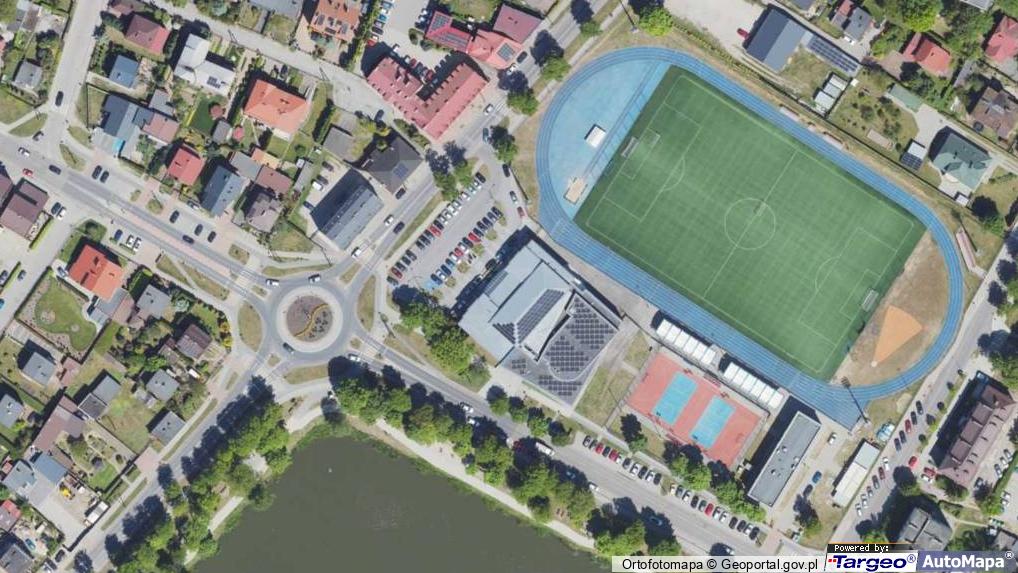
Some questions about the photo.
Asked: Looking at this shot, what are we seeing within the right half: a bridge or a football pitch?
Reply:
football pitch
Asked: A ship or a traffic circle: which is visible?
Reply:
traffic circle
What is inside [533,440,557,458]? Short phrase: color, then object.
white vehicle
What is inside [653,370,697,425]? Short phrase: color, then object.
blue basketball court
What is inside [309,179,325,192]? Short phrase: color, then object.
white vehicle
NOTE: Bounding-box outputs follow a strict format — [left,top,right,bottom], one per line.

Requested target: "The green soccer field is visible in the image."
[573,65,927,381]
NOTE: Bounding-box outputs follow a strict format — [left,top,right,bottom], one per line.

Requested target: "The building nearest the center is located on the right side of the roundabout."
[459,240,623,407]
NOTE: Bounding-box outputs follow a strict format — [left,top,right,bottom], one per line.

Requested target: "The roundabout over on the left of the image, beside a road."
[261,271,356,365]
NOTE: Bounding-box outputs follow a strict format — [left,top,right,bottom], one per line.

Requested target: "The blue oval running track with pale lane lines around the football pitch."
[535,46,961,431]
